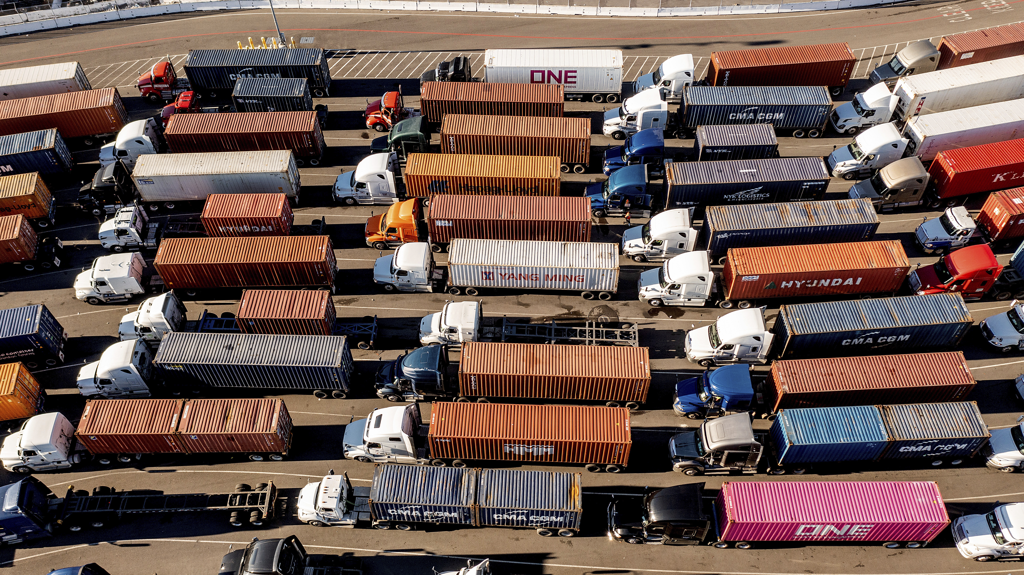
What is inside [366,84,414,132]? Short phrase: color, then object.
red truck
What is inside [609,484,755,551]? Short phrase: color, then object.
black truck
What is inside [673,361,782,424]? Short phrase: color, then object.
blue truck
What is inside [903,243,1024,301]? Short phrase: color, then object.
red truck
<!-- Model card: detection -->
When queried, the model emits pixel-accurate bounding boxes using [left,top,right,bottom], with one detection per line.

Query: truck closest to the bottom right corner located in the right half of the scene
[952,500,1024,562]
